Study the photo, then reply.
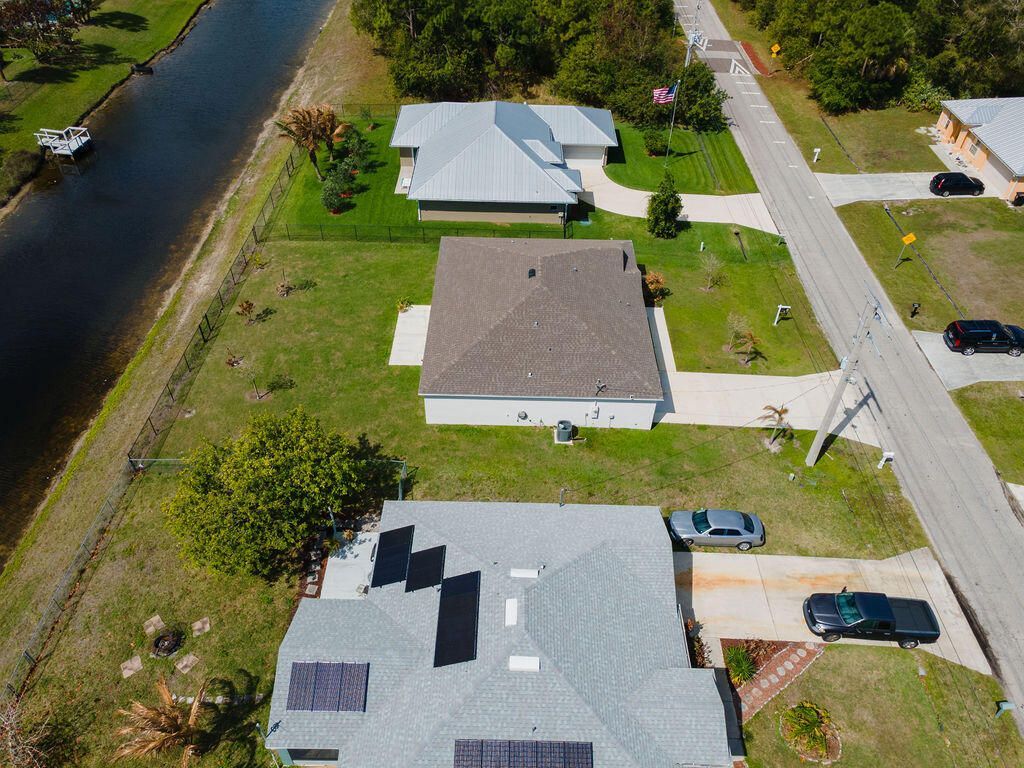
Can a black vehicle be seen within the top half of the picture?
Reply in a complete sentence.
Yes, a black vehicle is visible within the top half of the picture.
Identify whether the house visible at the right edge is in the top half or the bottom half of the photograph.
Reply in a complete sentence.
It is in the top half that the house visible at the right edge appears.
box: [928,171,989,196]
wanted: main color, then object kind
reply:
black car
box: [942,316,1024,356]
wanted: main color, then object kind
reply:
black car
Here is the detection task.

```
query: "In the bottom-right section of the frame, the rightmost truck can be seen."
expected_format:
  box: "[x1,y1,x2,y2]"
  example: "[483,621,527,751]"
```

[797,580,941,644]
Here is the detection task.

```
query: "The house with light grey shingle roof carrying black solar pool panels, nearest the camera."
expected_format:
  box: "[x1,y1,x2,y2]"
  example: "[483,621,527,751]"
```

[264,492,732,768]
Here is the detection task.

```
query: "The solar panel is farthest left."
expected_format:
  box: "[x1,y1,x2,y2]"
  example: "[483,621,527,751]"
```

[285,659,370,712]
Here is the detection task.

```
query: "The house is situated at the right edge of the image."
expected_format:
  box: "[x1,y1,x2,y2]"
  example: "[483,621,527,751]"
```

[940,99,1024,198]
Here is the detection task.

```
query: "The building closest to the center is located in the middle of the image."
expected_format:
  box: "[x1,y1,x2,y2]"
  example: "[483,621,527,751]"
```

[416,236,663,428]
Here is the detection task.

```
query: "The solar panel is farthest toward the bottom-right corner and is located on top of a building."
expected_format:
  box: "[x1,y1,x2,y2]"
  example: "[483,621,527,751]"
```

[453,737,594,768]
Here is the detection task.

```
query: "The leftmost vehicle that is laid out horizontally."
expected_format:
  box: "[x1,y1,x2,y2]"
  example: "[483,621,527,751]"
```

[669,505,767,554]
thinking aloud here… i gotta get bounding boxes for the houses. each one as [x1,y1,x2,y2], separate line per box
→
[940,99,1024,198]
[416,236,663,428]
[264,492,732,768]
[388,100,617,227]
